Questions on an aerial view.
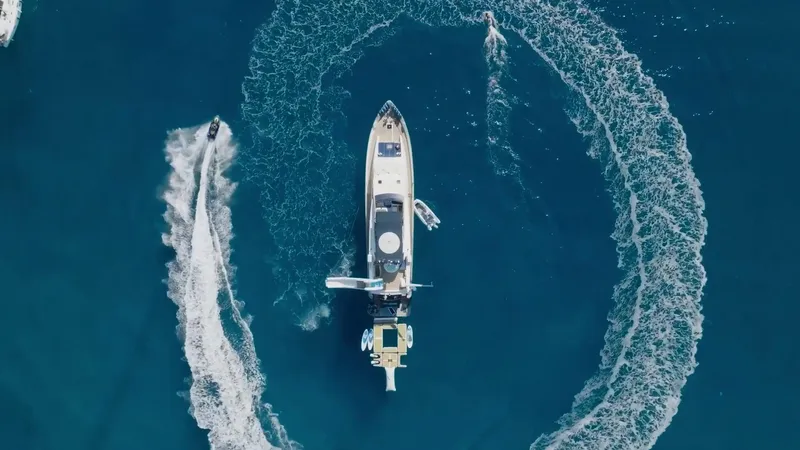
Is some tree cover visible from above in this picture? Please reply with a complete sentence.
No, no tree cover is visible.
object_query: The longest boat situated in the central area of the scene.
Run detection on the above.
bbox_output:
[365,99,432,316]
